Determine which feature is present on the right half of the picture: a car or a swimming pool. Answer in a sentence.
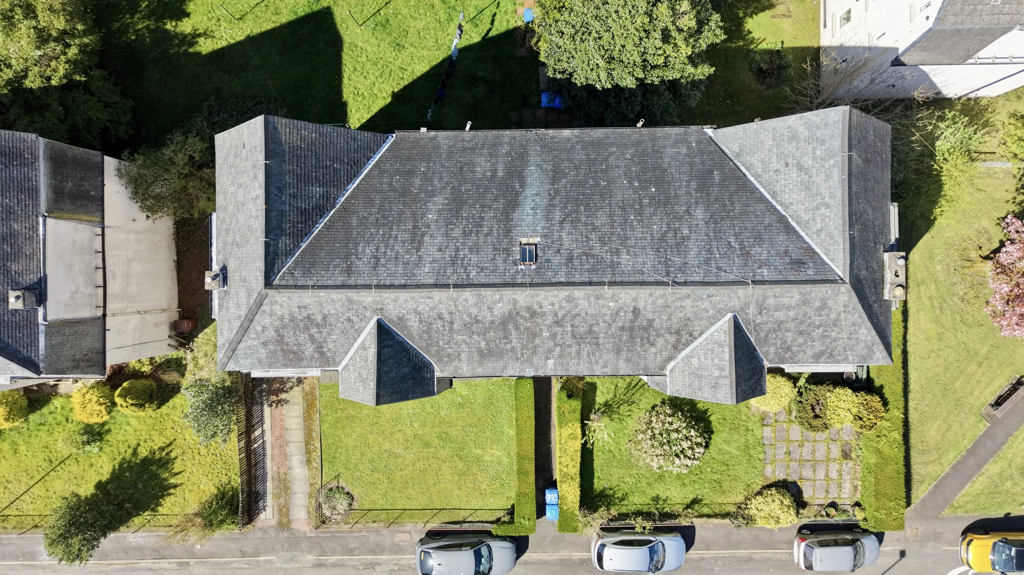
What appears on the right half of the picture is a car.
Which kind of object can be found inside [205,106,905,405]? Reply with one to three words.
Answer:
house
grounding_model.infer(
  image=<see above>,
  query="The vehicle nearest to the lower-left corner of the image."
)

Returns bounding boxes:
[416,532,517,575]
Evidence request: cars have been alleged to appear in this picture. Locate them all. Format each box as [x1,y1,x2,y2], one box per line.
[955,528,1024,575]
[416,532,517,575]
[591,526,685,575]
[791,527,877,575]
